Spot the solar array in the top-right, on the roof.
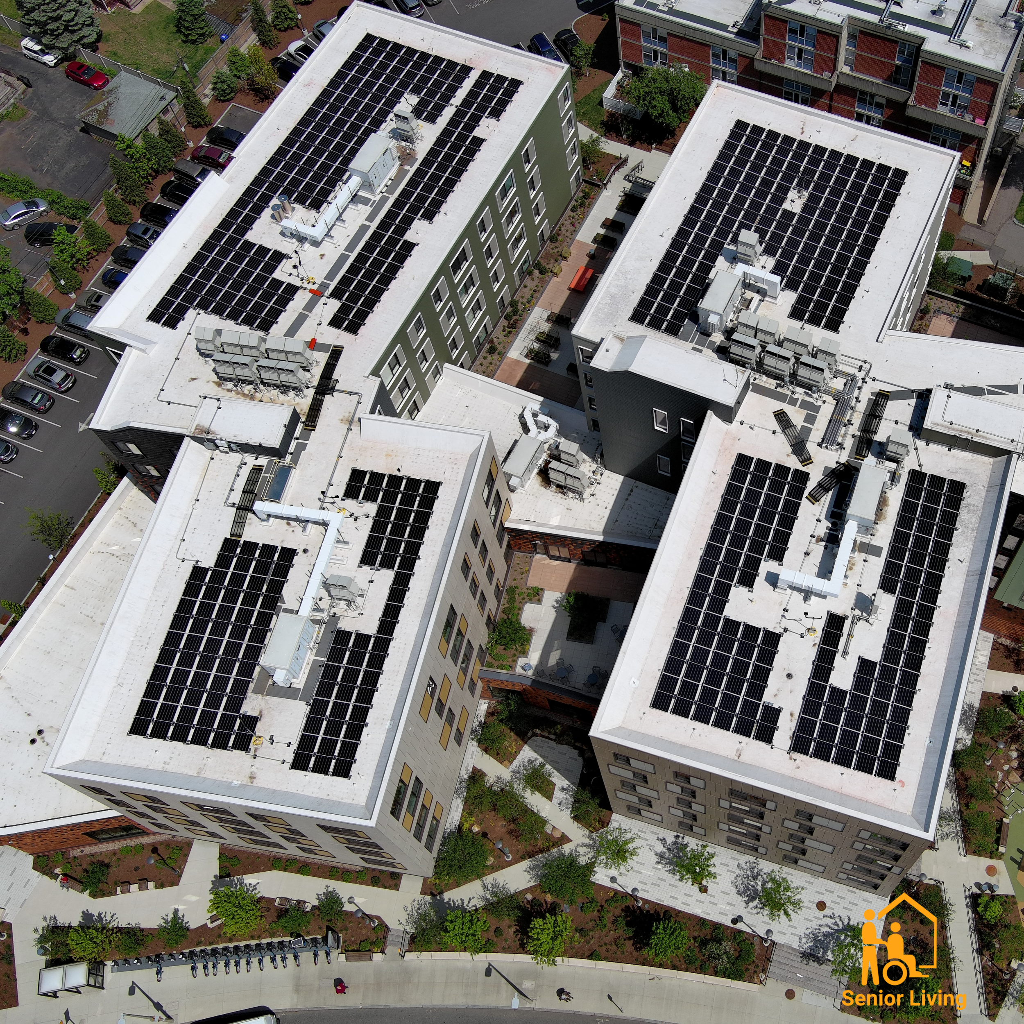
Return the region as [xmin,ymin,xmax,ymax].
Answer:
[629,119,911,338]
